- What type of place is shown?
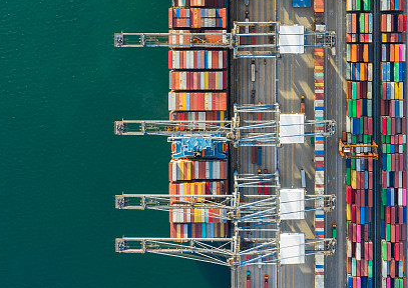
port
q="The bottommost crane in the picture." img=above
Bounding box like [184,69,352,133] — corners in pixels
[114,203,337,273]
